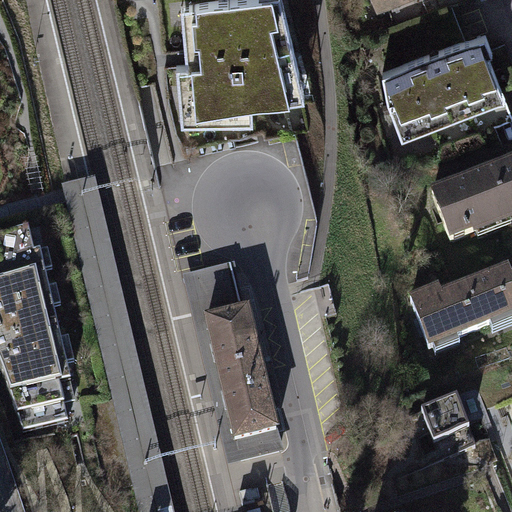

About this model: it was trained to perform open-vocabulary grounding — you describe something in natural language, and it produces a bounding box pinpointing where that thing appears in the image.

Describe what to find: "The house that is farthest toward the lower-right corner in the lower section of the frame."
[419,390,476,457]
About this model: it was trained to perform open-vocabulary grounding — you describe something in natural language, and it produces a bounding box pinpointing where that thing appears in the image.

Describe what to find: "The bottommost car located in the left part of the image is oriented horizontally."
[177,243,200,255]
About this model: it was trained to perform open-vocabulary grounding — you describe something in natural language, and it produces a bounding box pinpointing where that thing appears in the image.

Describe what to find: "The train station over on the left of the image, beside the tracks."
[26,0,298,512]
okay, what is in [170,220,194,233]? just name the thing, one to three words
vehicle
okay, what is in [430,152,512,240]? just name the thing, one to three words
house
